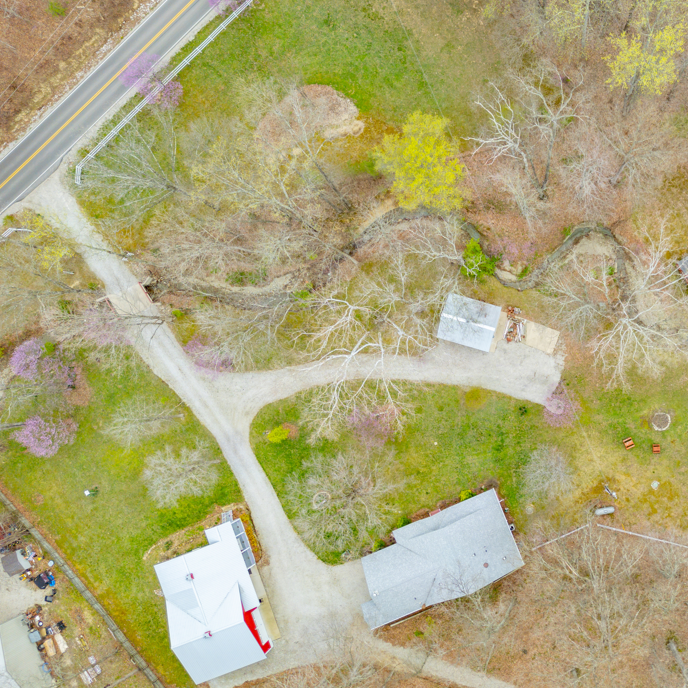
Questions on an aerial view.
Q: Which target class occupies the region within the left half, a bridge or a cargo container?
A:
bridge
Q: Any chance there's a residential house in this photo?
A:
Yes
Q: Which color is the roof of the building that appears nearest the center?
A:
white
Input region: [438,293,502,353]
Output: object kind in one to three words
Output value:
building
